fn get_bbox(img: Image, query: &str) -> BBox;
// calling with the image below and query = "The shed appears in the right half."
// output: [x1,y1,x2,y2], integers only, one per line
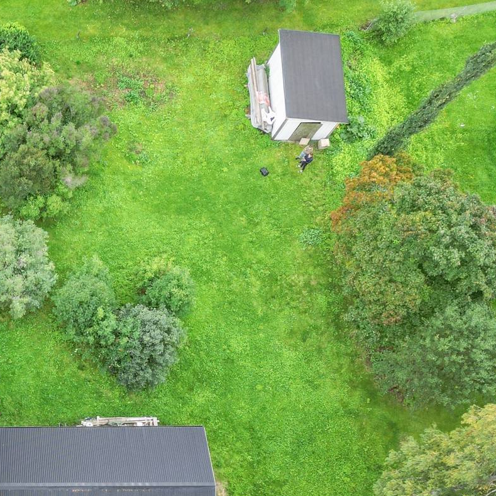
[270,27,352,141]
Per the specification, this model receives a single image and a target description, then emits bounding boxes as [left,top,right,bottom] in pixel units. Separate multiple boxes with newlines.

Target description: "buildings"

[270,27,352,141]
[0,424,217,496]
